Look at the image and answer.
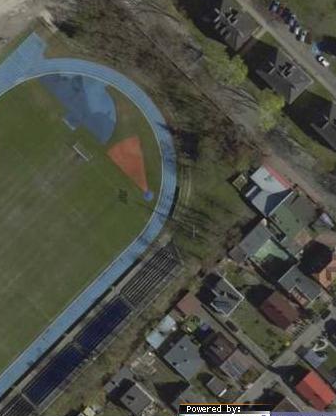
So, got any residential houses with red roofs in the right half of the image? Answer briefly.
Yes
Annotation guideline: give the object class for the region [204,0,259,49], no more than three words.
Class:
house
